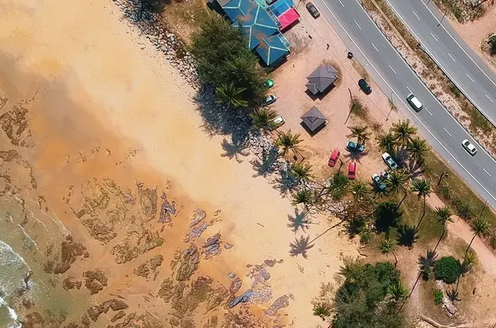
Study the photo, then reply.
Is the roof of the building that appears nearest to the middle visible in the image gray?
Yes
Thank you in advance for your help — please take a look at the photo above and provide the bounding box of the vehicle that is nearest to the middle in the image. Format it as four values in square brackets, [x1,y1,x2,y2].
[269,112,288,127]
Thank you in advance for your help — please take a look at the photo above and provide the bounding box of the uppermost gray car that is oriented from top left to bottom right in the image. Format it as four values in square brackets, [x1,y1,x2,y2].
[305,0,321,19]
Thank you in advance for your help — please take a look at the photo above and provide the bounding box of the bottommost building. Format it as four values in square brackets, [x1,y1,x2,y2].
[300,105,326,134]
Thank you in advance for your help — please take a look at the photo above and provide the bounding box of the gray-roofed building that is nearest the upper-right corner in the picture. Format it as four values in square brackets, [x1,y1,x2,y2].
[305,63,339,97]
